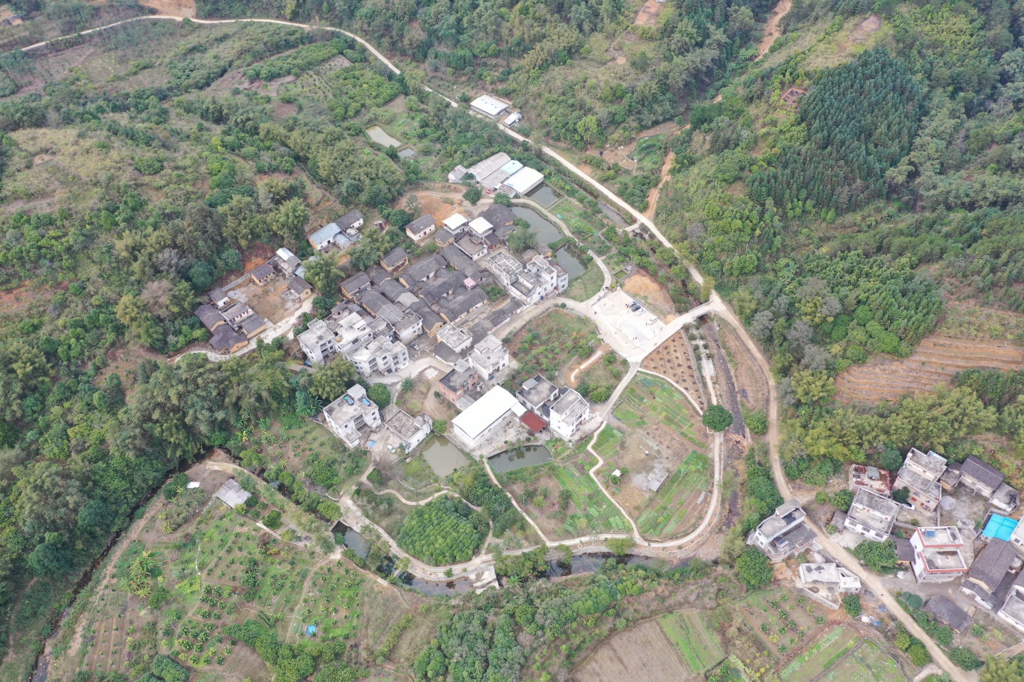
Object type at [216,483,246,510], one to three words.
shed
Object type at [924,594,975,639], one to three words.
house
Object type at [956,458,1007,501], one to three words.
house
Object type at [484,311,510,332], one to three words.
building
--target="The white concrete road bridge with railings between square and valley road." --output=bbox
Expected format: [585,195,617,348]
[665,296,725,325]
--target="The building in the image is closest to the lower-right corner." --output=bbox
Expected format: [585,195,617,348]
[991,594,1024,646]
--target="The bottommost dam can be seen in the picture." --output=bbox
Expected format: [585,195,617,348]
[469,573,499,596]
